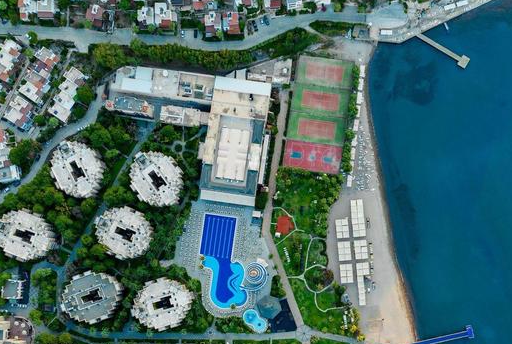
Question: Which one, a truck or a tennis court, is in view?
tennis court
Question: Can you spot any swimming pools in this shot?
Yes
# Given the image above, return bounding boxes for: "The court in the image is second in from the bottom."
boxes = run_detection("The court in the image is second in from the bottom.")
[286,110,349,145]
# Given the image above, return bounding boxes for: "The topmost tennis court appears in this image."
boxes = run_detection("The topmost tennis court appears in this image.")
[295,55,355,90]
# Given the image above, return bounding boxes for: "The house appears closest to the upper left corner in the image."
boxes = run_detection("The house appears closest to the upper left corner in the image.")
[17,0,40,23]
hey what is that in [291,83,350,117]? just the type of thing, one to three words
tennis court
